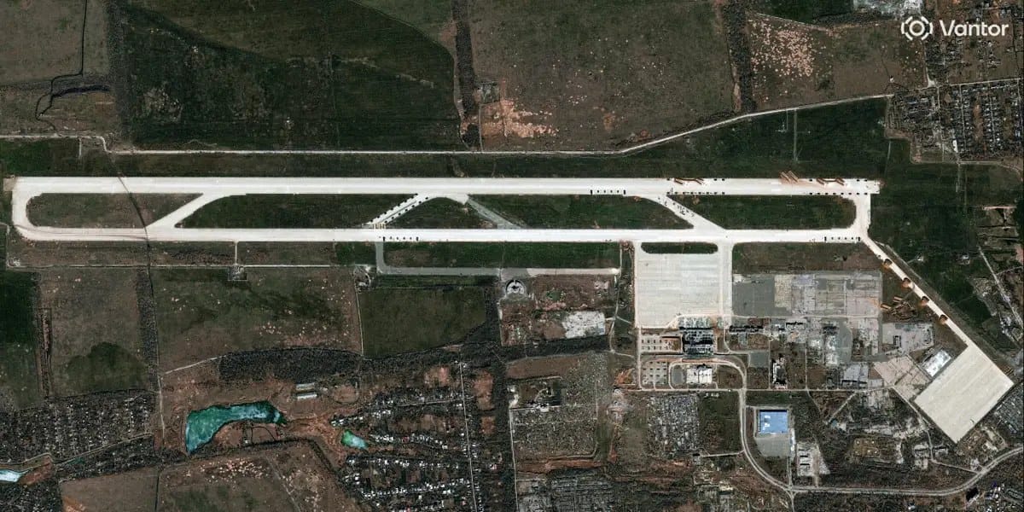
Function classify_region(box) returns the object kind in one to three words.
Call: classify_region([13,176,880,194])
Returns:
runway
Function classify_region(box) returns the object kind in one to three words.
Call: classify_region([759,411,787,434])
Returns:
building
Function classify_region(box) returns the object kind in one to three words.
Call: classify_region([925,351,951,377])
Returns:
building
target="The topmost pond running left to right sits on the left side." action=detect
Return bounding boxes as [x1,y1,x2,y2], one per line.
[186,400,286,455]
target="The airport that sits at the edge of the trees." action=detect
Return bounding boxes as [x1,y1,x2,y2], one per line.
[3,176,1014,443]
